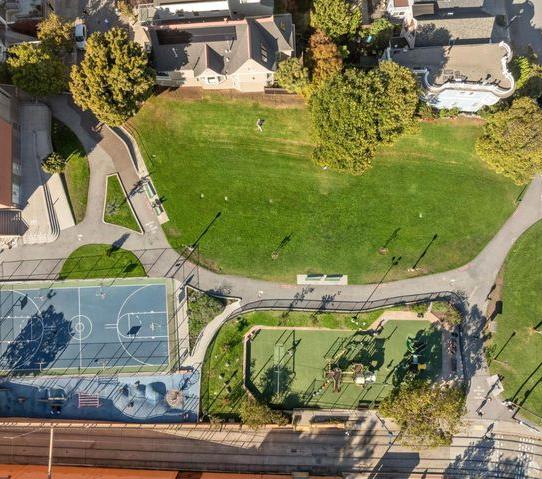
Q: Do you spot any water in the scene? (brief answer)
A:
No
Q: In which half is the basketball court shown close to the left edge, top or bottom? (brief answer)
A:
bottom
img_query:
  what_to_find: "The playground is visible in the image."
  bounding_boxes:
[243,309,462,405]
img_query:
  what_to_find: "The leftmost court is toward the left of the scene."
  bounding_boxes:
[0,276,176,375]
